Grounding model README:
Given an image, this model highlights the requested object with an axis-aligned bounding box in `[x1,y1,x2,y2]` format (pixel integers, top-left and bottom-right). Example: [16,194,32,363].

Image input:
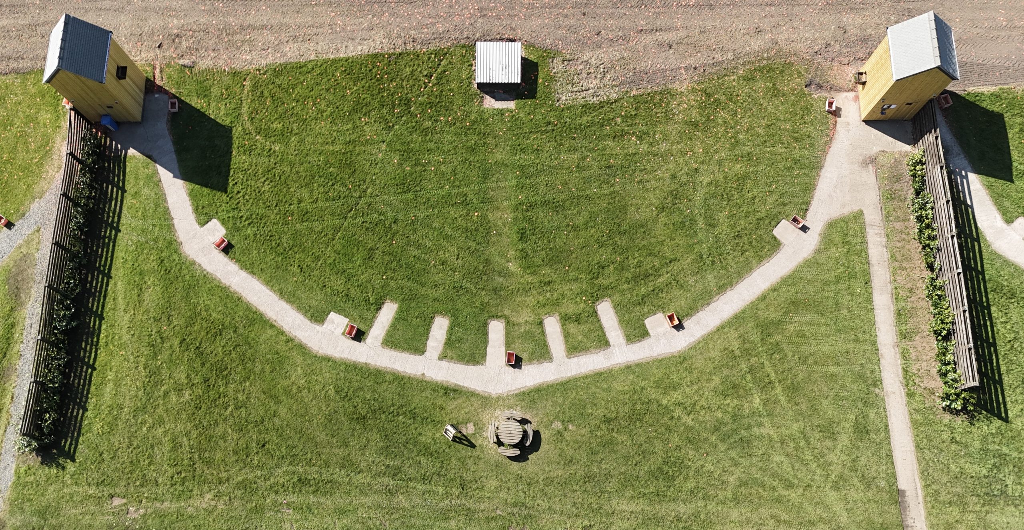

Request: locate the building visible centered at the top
[475,41,521,88]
